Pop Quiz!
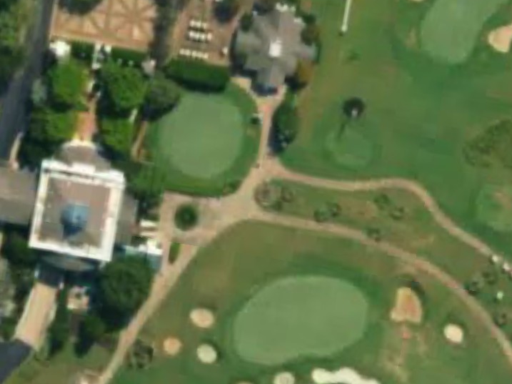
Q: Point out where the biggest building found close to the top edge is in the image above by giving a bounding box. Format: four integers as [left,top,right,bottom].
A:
[233,8,319,93]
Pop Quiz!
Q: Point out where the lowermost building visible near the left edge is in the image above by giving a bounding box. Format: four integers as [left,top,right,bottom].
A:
[0,132,138,272]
